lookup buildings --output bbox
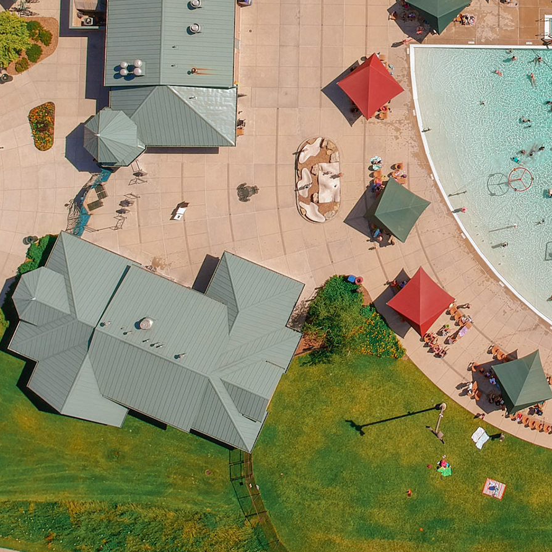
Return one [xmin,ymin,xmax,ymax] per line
[83,0,241,166]
[7,231,304,453]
